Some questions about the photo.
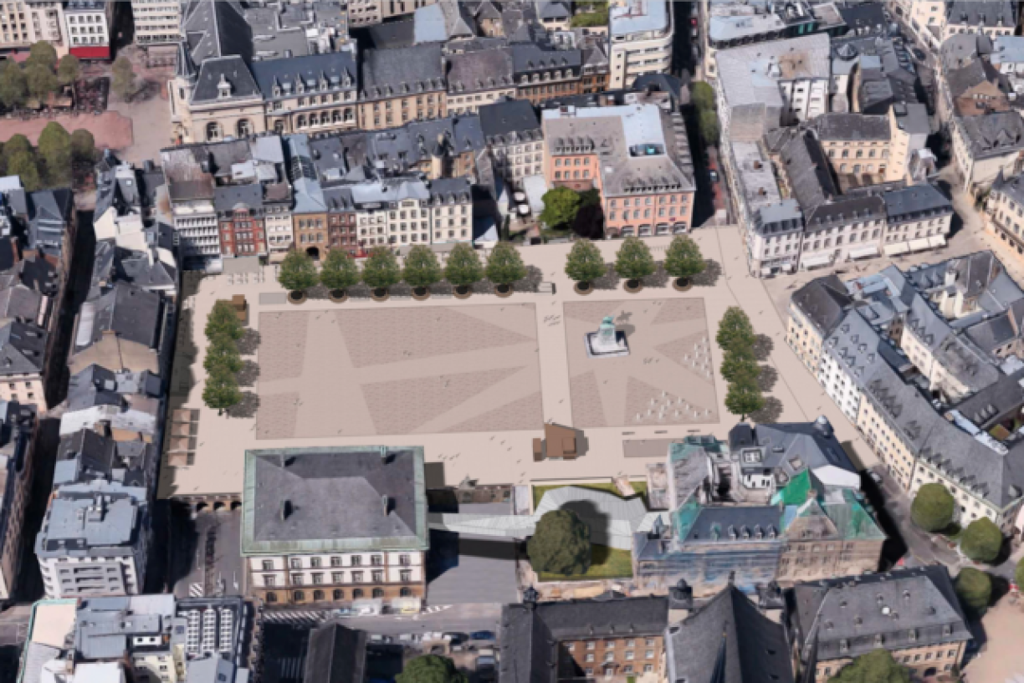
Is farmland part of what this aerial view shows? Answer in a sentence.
No, the picture contains no farmland.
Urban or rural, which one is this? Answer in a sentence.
From above, the setting appears urban.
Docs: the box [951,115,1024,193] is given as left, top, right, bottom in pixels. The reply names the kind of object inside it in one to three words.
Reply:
house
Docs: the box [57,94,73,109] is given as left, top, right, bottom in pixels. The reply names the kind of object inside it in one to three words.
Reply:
umbrella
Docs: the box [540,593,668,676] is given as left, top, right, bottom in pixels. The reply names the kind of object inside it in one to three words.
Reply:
building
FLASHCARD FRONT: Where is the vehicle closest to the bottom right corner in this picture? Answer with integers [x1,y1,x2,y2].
[1003,578,1018,590]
